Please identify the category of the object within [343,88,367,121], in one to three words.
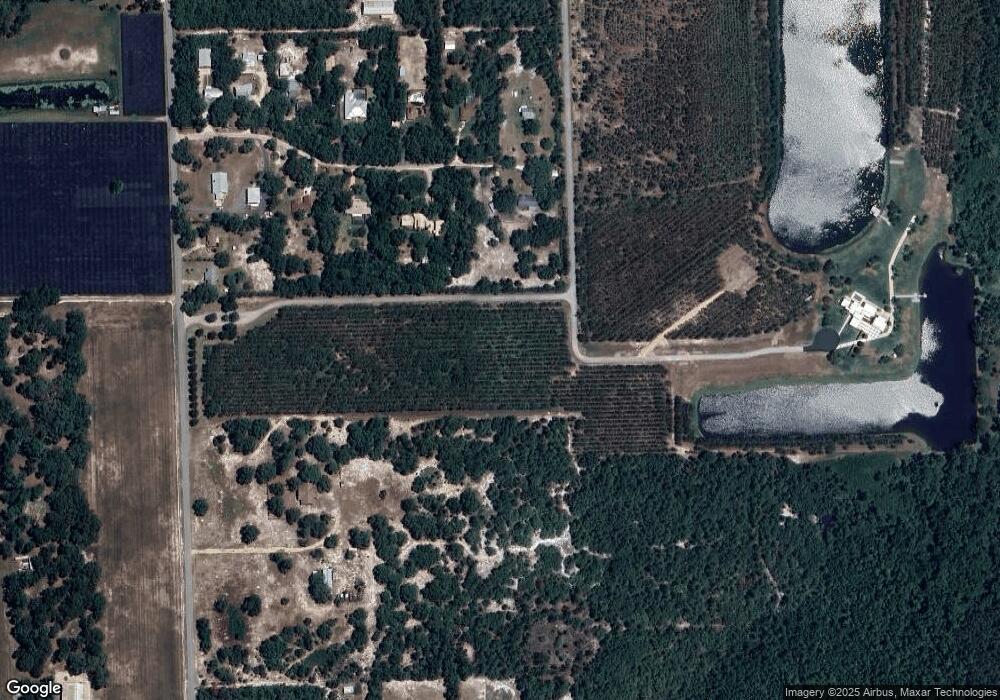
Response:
house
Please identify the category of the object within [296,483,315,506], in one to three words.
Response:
house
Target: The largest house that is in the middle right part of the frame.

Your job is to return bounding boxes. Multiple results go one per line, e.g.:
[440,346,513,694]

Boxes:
[837,291,893,338]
